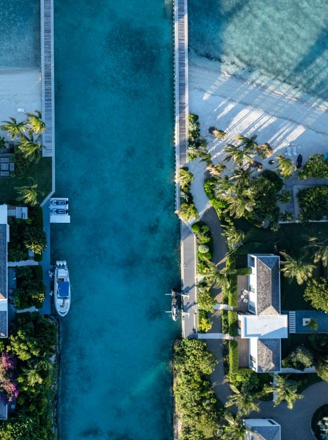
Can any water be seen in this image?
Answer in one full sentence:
Yes, water shows up in the scene.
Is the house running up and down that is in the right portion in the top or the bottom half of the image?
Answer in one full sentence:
Seen from above, the house running up and down that is in the right portion lies in the bottom half of the view.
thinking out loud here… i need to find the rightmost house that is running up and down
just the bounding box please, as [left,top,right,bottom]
[236,255,289,373]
